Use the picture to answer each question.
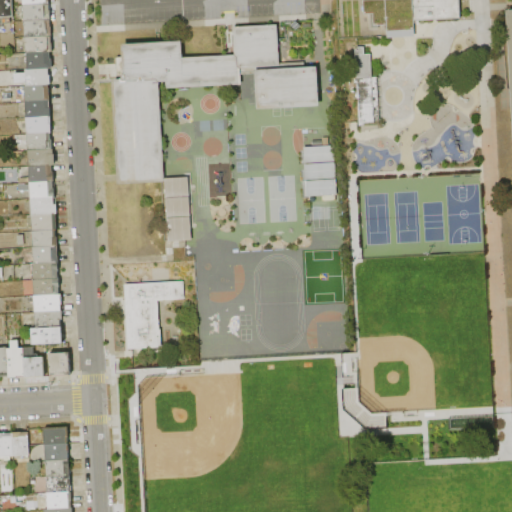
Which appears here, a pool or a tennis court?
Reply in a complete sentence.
It is a tennis court that can be seen here.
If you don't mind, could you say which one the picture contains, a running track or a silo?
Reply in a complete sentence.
Visible in the photo is a running track.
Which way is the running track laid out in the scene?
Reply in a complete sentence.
The running track runs up and down in the image.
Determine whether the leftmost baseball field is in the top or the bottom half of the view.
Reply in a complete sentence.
You can find the leftmost baseball field in the bottom half.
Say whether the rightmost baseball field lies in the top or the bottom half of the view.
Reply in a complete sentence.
The rightmost baseball field is in the bottom half of the image.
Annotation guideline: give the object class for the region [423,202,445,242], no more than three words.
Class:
sports court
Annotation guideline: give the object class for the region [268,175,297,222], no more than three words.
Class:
basketball court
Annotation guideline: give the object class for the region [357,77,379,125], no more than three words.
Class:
building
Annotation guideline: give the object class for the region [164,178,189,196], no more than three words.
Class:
house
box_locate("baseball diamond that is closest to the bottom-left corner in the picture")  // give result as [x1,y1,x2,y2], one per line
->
[141,372,244,480]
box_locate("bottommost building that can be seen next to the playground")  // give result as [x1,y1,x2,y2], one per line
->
[124,280,184,350]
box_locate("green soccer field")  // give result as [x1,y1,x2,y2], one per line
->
[303,250,344,304]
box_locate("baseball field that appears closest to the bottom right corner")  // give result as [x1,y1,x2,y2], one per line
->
[358,335,436,411]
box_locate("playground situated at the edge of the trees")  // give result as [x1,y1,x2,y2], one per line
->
[160,13,340,261]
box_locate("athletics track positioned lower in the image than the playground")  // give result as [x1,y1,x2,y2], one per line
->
[255,254,306,350]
